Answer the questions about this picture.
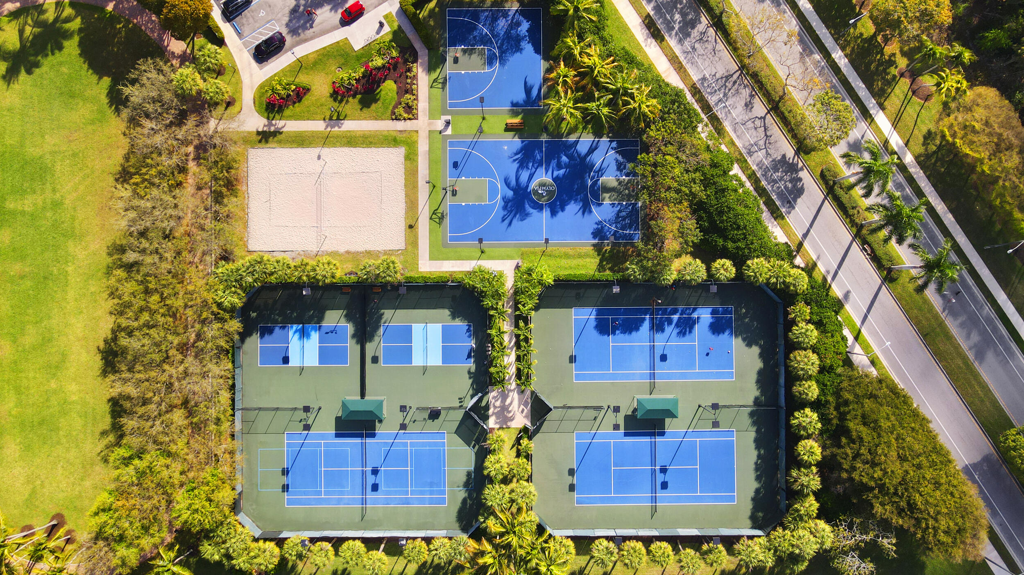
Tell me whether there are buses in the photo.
No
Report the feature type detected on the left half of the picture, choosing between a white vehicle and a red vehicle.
red vehicle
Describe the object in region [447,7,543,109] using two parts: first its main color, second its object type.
blue basketball court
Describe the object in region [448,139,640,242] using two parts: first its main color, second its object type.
blue basketball court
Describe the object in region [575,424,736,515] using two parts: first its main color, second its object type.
blue tennis court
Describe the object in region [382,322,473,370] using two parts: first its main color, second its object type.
blue sports court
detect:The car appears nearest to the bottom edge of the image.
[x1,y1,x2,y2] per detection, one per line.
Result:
[254,31,286,57]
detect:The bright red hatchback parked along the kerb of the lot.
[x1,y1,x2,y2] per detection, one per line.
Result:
[341,0,369,23]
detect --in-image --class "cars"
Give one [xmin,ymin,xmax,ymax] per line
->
[254,31,286,57]
[341,0,369,23]
[221,0,255,18]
